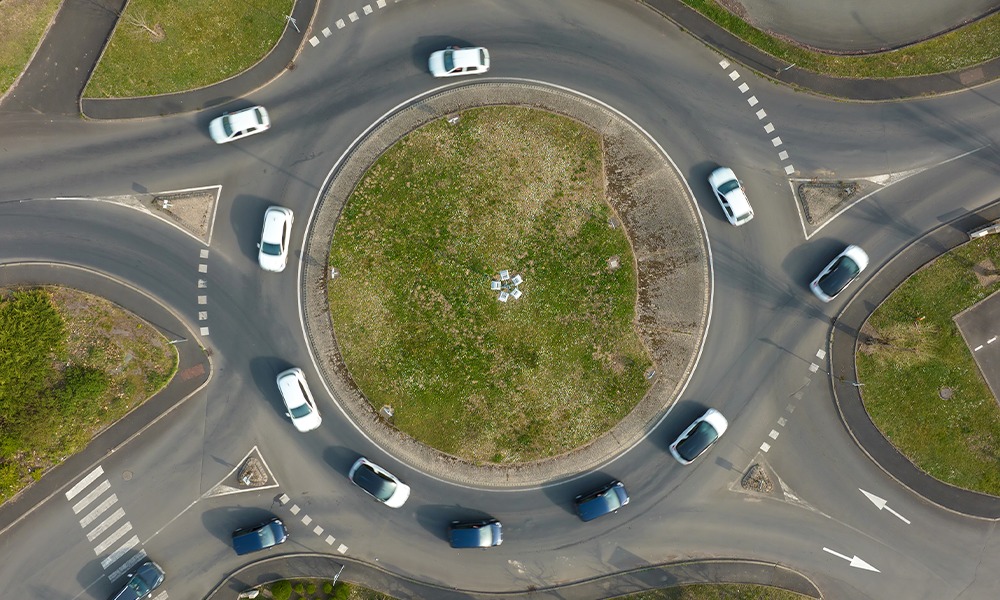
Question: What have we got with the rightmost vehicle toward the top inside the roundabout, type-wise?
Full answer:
What you see as the rightmost vehicle toward the top inside the roundabout is a car.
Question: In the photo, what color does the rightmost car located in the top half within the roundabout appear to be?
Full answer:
The rightmost car located in the top half within the roundabout is white.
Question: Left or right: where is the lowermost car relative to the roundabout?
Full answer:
The lowermost car appears to the left of the roundabout in this view.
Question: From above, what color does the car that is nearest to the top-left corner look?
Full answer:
The car that is nearest to the top-left corner looks white in the image.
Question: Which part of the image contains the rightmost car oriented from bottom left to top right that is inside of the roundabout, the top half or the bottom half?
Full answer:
It is in the bottom half that the rightmost car oriented from bottom left to top right that is inside of the roundabout appears.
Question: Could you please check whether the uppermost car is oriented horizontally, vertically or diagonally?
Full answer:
In this picture, the uppermost car is oriented horizontally.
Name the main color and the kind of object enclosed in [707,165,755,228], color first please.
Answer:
white car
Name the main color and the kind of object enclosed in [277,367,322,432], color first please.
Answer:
white car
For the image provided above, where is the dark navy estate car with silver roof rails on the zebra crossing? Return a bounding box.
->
[110,558,169,600]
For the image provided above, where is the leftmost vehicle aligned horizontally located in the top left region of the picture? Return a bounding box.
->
[210,107,273,145]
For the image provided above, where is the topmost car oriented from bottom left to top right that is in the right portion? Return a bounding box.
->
[809,246,866,302]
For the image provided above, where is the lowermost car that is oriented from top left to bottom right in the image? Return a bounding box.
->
[349,457,410,506]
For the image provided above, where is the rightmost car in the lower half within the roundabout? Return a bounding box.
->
[669,409,727,465]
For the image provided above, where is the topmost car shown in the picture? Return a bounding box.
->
[429,46,491,78]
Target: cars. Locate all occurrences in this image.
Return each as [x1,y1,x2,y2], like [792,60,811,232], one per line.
[669,409,727,465]
[258,207,294,272]
[429,46,491,78]
[809,246,866,302]
[210,107,273,145]
[110,558,169,600]
[707,165,755,228]
[349,457,410,506]
[572,481,631,521]
[447,518,504,550]
[230,518,290,556]
[277,367,322,432]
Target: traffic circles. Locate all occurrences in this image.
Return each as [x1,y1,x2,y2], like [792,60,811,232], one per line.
[208,0,803,581]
